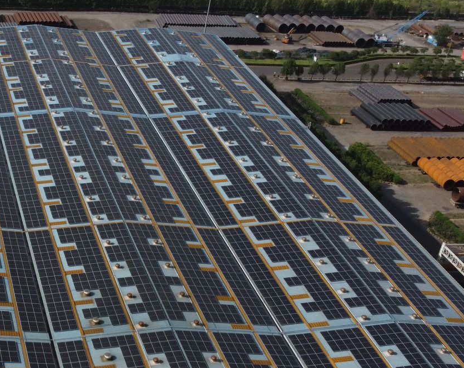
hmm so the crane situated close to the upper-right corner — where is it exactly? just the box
[375,11,428,49]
